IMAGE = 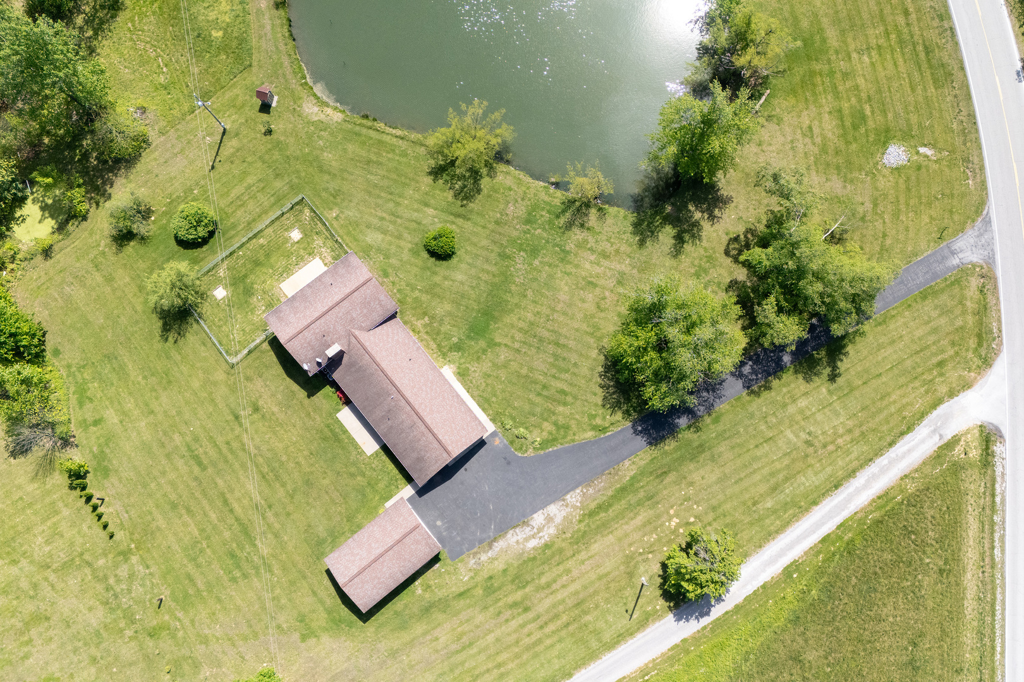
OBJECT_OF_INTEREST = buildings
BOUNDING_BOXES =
[265,250,488,488]
[324,497,442,613]
[255,87,274,104]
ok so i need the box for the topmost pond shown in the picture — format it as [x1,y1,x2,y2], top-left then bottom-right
[287,0,724,212]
